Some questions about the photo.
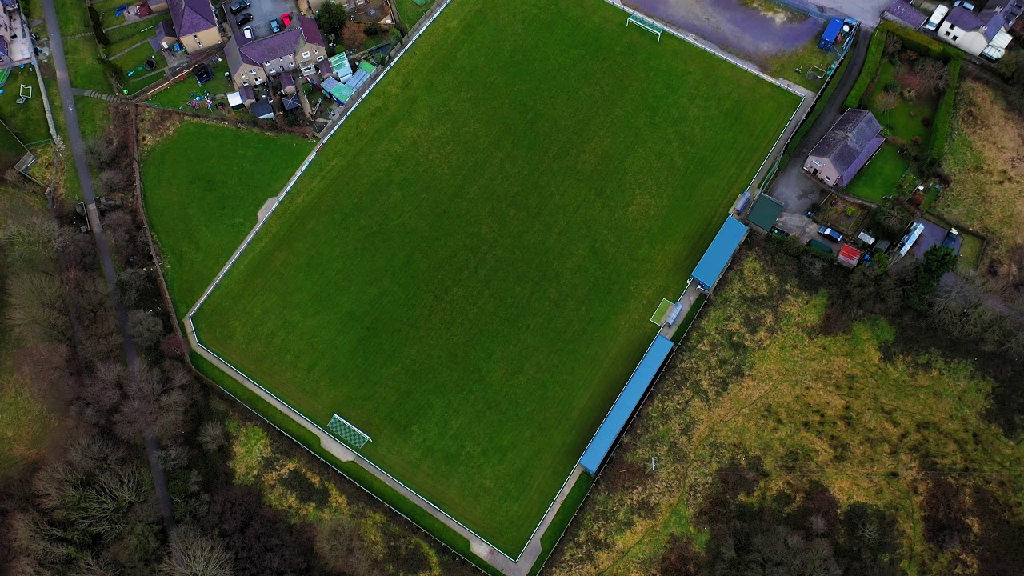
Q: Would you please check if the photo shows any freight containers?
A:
Yes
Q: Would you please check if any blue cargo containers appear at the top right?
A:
Yes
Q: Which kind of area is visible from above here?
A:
sports ground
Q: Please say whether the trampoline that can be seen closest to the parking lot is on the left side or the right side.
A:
left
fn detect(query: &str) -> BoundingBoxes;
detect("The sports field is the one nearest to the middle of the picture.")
[191,0,800,559]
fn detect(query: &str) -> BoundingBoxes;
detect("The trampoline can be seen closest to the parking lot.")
[190,61,212,84]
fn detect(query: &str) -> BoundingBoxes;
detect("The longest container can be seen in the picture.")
[818,18,845,51]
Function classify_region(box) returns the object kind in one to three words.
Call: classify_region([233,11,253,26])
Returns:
car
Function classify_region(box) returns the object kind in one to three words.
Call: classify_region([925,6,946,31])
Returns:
camper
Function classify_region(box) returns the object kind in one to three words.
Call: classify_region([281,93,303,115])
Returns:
gazebo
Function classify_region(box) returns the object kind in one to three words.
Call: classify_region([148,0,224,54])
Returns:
house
